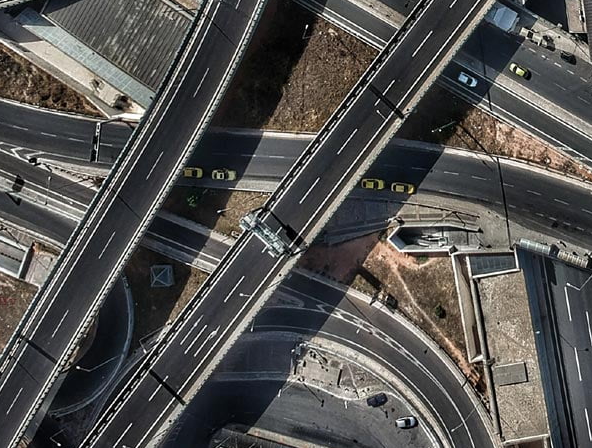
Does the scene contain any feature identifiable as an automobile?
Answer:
Yes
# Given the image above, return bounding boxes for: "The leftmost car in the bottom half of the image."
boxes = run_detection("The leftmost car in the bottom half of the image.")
[363,393,388,408]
